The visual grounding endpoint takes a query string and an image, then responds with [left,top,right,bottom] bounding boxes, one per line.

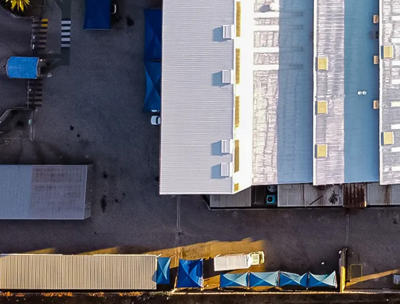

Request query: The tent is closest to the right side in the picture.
[308,267,336,287]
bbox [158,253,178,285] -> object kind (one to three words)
tent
